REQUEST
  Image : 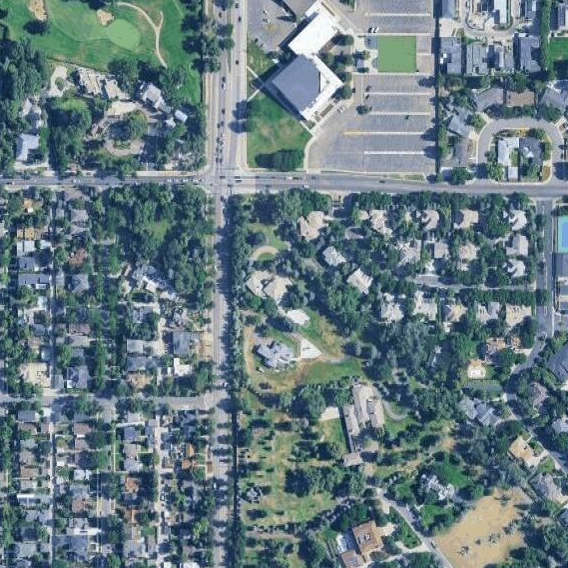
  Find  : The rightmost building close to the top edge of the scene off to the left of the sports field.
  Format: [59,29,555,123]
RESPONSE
[271,0,344,119]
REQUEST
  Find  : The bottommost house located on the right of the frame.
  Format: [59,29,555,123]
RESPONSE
[342,521,381,568]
